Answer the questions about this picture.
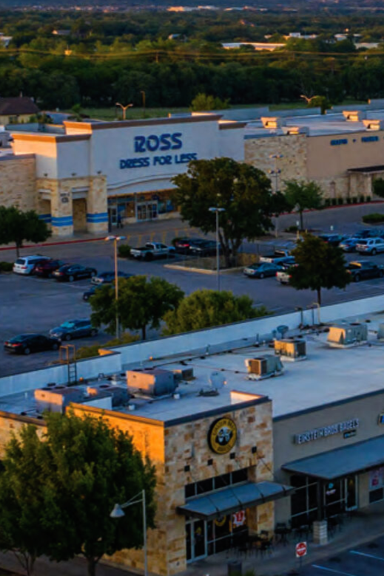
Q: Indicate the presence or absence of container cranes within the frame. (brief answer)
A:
No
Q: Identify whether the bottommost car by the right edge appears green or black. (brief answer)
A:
black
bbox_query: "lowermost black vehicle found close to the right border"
[338,257,384,280]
